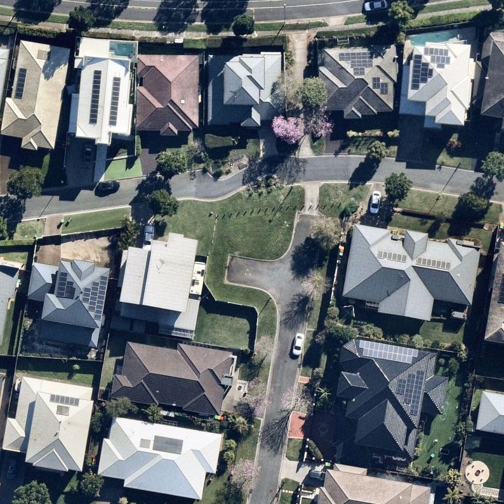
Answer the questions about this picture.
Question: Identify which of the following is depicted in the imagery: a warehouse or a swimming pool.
swimming pool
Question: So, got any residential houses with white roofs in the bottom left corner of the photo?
Yes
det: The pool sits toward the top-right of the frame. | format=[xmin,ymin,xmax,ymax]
[407,24,471,46]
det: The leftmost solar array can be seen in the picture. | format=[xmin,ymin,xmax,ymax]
[14,68,29,99]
